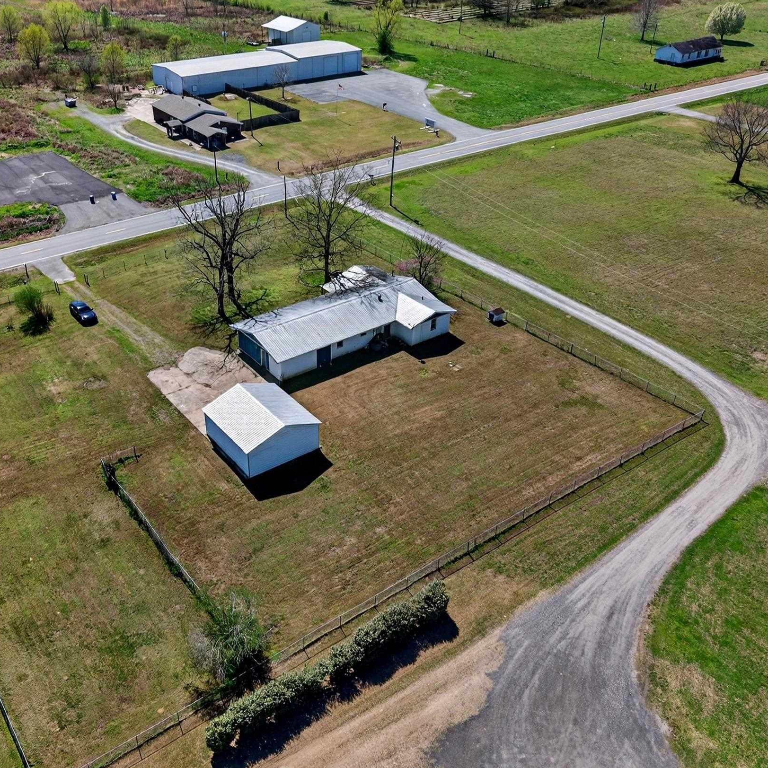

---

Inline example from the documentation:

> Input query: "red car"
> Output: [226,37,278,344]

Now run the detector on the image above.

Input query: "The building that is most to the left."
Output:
[152,97,252,150]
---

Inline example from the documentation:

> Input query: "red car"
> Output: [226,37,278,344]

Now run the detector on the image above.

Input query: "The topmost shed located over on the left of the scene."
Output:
[256,13,320,45]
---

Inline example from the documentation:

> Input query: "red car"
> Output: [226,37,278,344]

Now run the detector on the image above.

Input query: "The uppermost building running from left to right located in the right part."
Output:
[655,36,725,65]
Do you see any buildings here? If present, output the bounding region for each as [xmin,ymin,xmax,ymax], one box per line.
[152,97,252,150]
[256,13,320,45]
[157,39,364,94]
[655,36,725,65]
[200,383,325,478]
[231,264,457,381]
[486,308,506,326]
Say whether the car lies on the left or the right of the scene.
left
